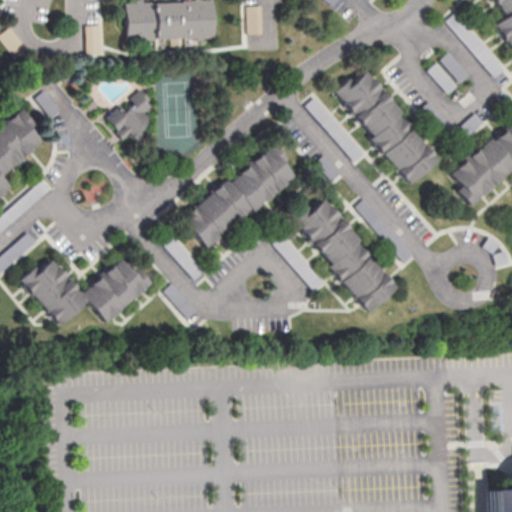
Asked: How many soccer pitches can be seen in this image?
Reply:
0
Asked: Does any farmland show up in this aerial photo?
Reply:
No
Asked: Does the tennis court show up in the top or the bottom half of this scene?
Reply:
top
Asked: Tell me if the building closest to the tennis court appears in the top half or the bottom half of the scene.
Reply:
top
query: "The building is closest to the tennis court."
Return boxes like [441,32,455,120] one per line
[102,92,150,146]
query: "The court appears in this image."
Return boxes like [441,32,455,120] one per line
[156,76,203,158]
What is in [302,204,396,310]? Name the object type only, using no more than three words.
building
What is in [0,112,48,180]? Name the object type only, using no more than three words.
building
